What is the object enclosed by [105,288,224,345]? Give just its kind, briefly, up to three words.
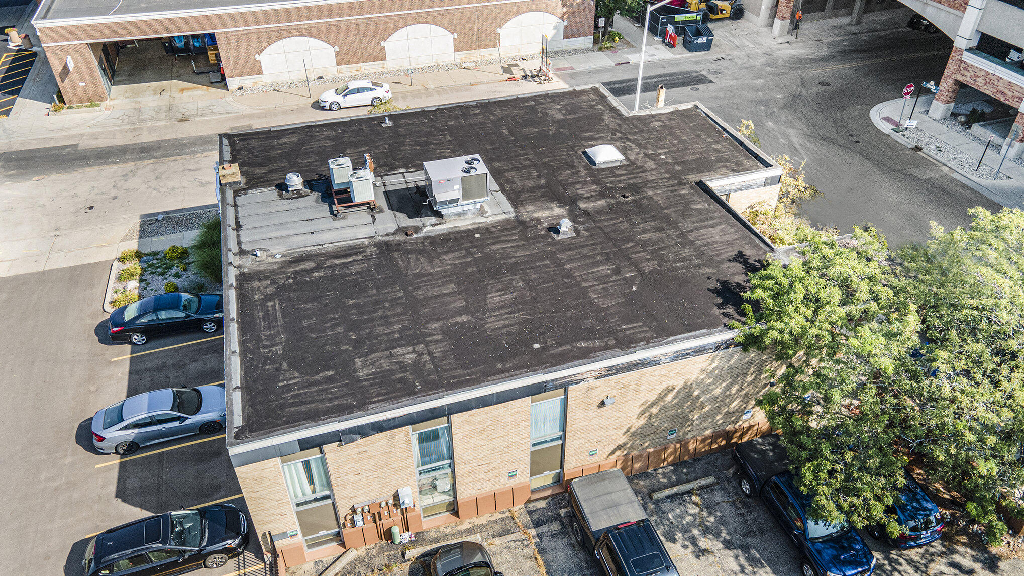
car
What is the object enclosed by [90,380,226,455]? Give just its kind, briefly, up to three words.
car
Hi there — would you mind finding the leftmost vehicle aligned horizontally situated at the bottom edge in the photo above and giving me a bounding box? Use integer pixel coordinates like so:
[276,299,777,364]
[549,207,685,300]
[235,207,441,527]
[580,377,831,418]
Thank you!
[70,495,250,576]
